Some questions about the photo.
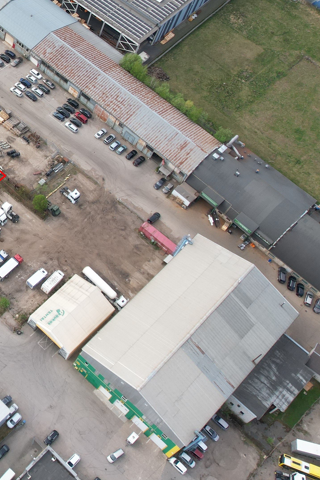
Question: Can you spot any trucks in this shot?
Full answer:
Yes, the photo shows a truck.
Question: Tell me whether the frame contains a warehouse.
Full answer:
Yes, there's a warehouse here.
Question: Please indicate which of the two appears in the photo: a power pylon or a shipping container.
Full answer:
Visible in the photo is a shipping container.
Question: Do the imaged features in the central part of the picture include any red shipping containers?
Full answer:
Yes, I can see a red shipping container in the central part of the picture.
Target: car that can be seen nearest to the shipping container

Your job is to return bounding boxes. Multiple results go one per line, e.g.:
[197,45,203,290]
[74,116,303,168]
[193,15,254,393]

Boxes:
[146,212,160,225]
